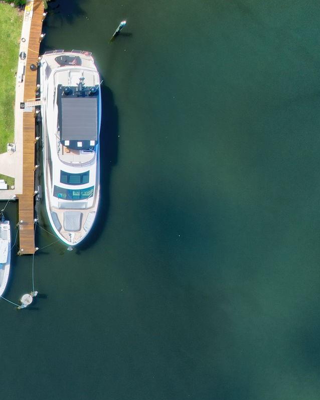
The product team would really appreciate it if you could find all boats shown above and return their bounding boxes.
[0,209,10,296]
[39,48,101,249]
